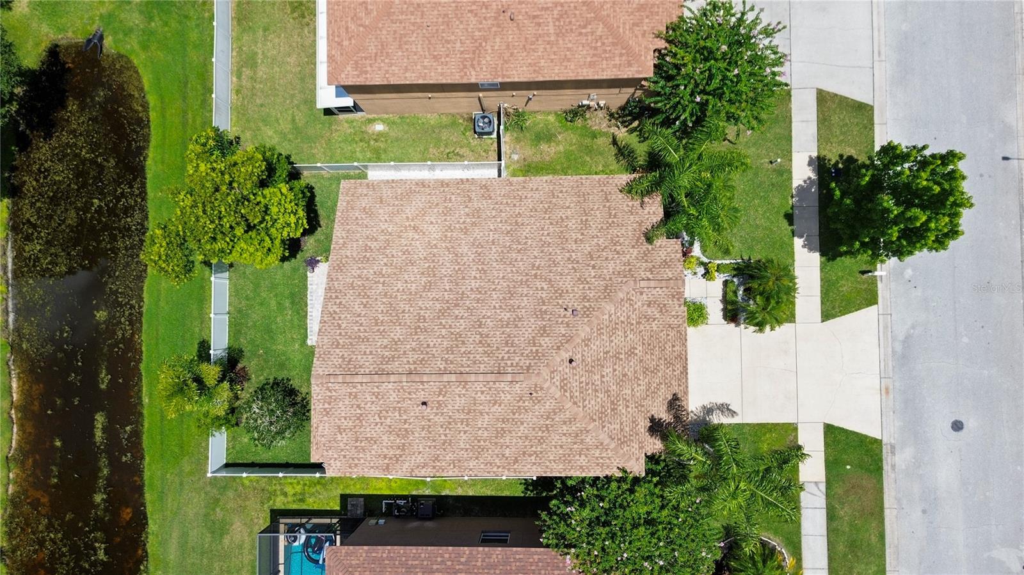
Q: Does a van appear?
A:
No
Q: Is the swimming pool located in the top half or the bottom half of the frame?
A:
bottom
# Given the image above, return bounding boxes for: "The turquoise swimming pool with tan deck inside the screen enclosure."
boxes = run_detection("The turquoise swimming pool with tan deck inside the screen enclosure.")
[277,517,367,575]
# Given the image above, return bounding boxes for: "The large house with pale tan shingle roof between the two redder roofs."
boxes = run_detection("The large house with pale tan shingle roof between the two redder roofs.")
[311,175,689,477]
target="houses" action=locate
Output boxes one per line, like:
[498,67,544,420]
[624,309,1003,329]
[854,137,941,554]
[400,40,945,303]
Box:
[311,175,689,477]
[326,516,650,575]
[325,0,681,115]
